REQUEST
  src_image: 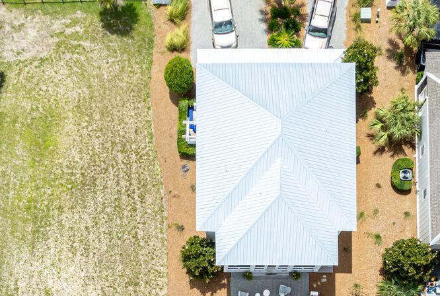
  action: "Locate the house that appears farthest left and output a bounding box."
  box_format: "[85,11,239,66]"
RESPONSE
[178,49,358,286]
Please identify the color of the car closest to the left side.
white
